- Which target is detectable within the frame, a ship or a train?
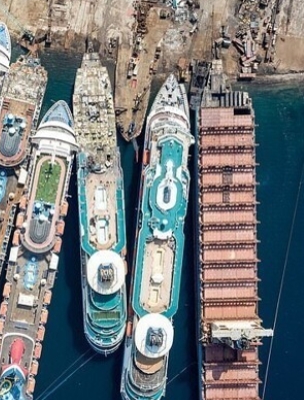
ship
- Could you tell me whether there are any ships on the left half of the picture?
Yes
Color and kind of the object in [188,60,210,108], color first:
gray ship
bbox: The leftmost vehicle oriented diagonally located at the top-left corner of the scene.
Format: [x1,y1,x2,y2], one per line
[23,36,41,58]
